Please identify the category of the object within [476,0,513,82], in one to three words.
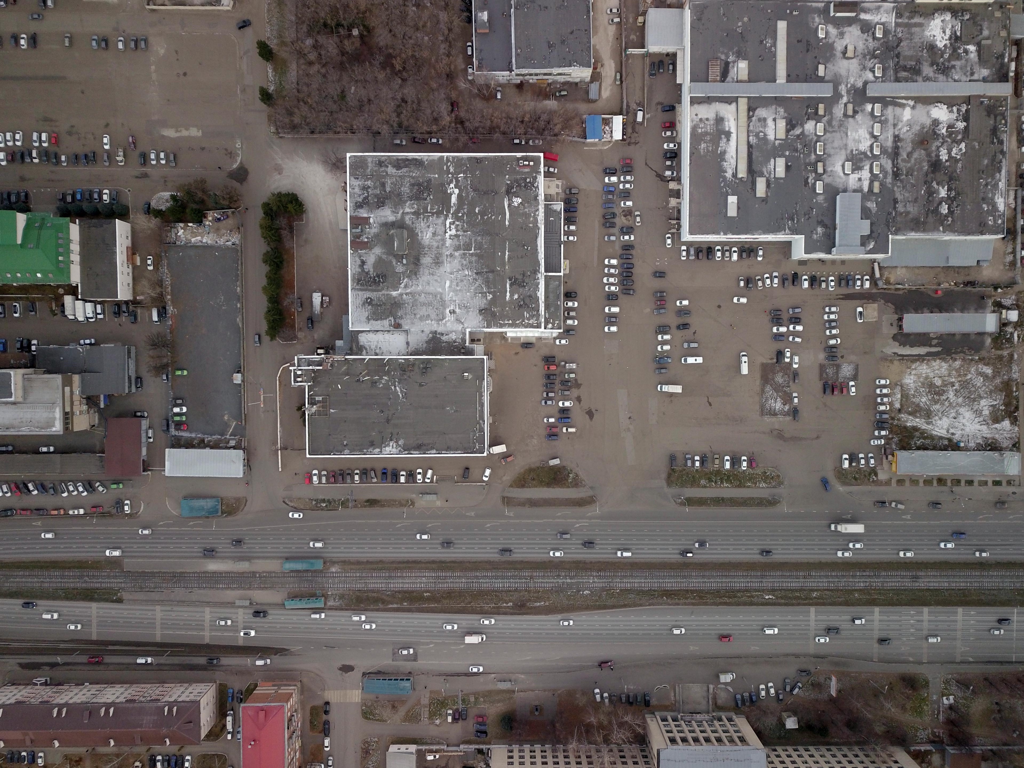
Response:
building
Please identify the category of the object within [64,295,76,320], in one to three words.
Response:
vehicle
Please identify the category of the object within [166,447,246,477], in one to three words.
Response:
shed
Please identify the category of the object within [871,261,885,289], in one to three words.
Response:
vehicle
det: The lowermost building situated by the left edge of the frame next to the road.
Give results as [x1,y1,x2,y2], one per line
[0,684,218,749]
